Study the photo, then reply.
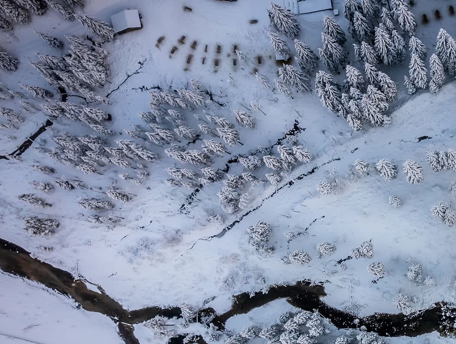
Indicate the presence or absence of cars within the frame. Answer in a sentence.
No, there is no car in the image.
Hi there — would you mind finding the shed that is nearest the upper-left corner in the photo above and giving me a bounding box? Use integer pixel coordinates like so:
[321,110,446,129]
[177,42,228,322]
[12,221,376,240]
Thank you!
[114,9,145,34]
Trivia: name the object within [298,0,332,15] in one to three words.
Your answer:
building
